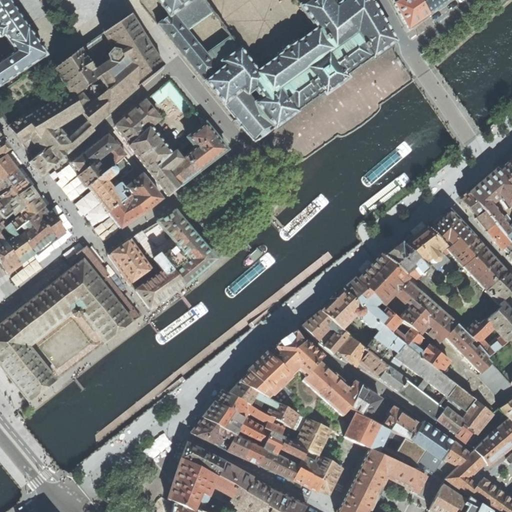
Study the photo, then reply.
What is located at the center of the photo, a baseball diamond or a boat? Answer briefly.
boat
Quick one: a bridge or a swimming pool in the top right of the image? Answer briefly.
bridge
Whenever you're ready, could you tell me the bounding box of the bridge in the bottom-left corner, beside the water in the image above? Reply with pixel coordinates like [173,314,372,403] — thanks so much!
[0,420,72,492]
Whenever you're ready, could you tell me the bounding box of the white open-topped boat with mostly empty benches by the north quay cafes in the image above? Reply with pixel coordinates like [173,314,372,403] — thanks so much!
[157,303,208,344]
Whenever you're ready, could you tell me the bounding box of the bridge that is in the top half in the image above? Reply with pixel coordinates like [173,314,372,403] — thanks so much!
[414,66,481,146]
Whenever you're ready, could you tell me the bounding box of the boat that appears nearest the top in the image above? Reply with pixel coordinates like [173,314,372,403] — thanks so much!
[364,142,412,185]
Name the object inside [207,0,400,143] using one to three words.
building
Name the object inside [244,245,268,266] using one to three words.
boat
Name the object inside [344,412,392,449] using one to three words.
house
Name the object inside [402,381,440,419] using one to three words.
house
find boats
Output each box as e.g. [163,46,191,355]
[280,196,330,239]
[360,174,410,212]
[244,245,268,266]
[226,254,274,296]
[157,303,208,344]
[364,142,412,185]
